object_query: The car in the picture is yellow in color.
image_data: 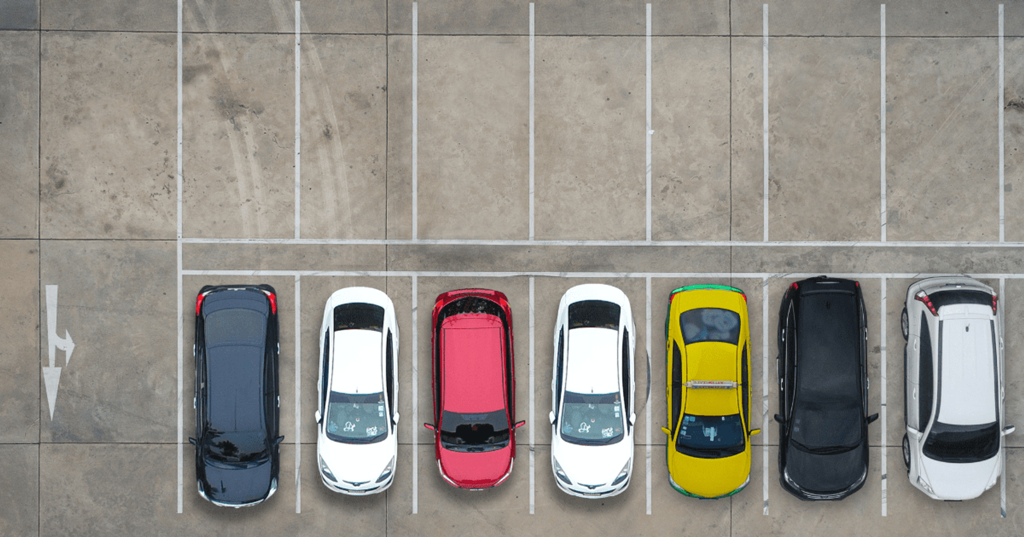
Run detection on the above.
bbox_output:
[658,283,761,501]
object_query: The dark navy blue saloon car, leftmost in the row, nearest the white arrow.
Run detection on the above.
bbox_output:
[188,282,288,510]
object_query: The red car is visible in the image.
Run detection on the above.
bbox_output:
[423,287,527,491]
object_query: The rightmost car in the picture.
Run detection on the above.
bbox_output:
[904,275,1020,502]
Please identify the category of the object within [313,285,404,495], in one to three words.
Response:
car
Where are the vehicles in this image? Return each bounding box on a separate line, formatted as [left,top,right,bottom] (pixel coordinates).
[423,287,527,491]
[658,283,761,501]
[546,283,640,499]
[313,285,404,495]
[188,282,288,510]
[904,275,1020,502]
[772,274,880,501]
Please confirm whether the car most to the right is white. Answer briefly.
Yes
